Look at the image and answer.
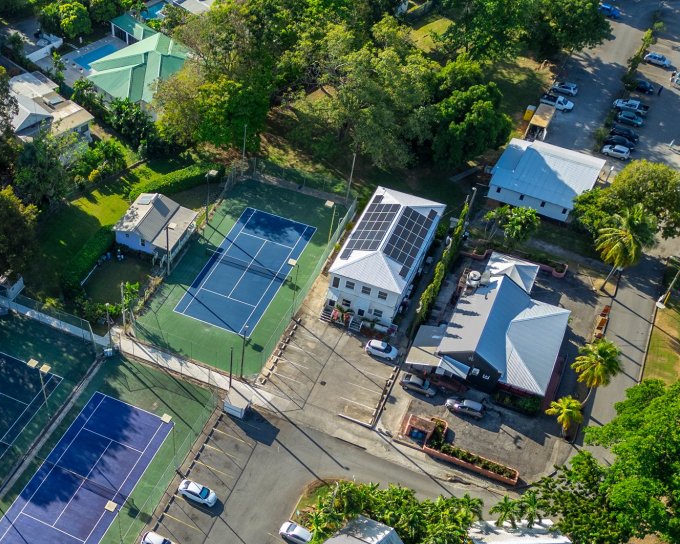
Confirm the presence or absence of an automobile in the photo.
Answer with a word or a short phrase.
Yes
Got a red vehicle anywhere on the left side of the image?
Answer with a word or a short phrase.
No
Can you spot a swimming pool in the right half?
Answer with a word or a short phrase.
No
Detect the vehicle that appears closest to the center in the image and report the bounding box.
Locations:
[365,338,400,361]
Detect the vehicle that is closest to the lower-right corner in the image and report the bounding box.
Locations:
[446,395,485,418]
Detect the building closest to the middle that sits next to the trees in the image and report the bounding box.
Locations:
[323,186,446,325]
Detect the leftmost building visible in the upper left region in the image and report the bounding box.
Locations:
[0,72,94,147]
